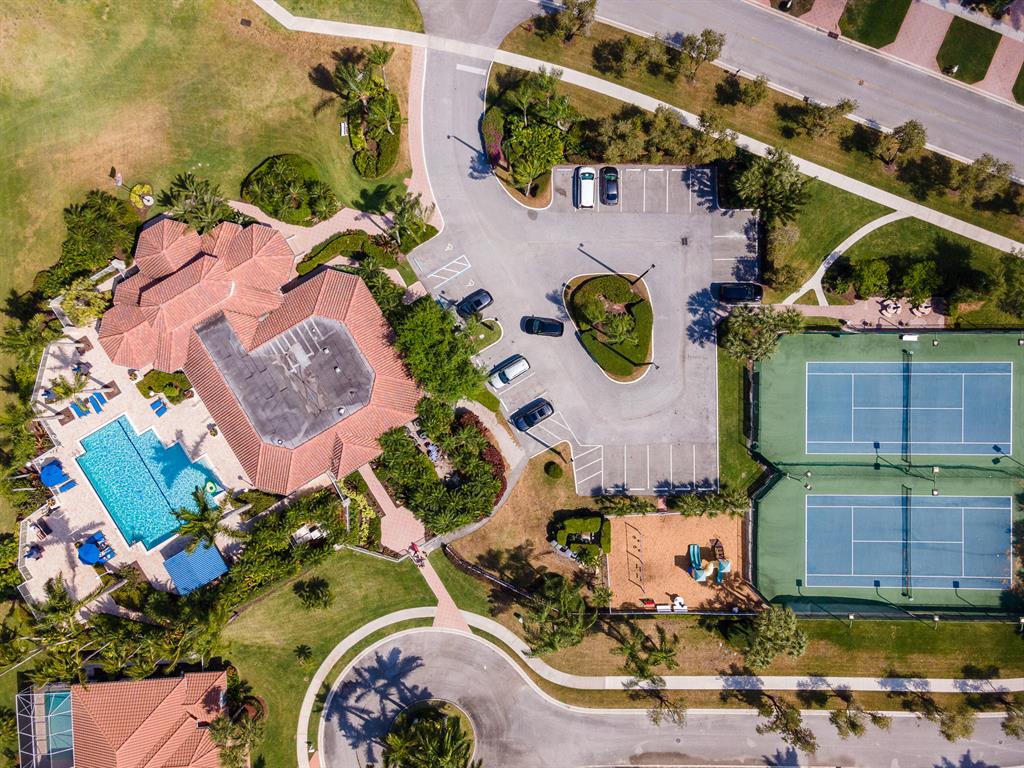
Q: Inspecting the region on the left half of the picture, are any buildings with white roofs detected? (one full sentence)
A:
No, no building with a white roof is visible on the left half of the picture.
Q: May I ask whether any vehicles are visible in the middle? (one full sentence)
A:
Yes, I can see a vehicle in the middle.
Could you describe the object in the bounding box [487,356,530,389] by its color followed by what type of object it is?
white car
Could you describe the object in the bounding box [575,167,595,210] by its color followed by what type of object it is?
white car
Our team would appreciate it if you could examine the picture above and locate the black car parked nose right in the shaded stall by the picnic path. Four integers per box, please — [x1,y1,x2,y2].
[712,282,760,302]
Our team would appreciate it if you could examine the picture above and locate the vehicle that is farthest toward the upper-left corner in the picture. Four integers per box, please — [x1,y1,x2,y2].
[455,288,496,319]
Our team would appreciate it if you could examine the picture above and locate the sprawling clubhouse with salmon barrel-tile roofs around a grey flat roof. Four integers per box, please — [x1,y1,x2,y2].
[98,218,423,496]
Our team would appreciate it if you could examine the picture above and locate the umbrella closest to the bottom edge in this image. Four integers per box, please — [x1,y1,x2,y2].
[78,540,103,565]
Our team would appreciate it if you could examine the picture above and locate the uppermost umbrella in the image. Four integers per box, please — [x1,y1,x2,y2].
[42,461,67,486]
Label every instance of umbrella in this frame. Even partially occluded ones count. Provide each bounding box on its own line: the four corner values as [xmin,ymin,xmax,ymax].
[42,461,67,486]
[78,540,103,565]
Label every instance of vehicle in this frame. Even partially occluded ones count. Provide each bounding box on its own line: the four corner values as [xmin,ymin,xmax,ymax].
[599,166,619,207]
[455,288,496,319]
[511,397,554,430]
[575,167,595,210]
[712,282,760,302]
[521,316,565,337]
[487,356,530,389]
